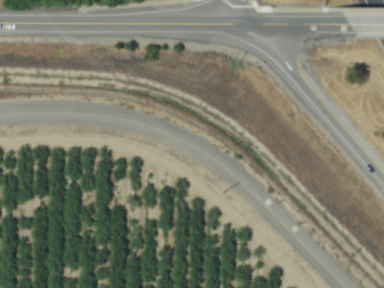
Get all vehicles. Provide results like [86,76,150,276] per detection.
[366,162,376,173]
[3,24,16,29]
